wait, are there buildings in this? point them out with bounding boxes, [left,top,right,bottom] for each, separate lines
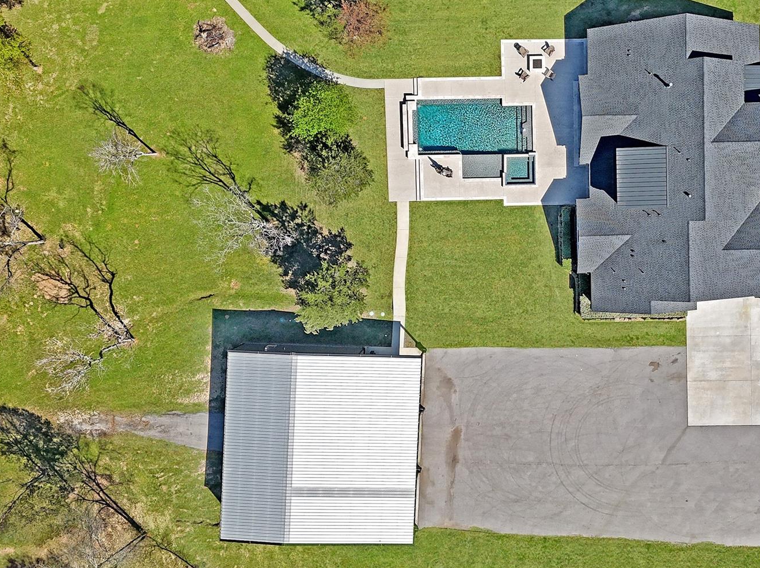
[220,343,424,550]
[576,14,760,313]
